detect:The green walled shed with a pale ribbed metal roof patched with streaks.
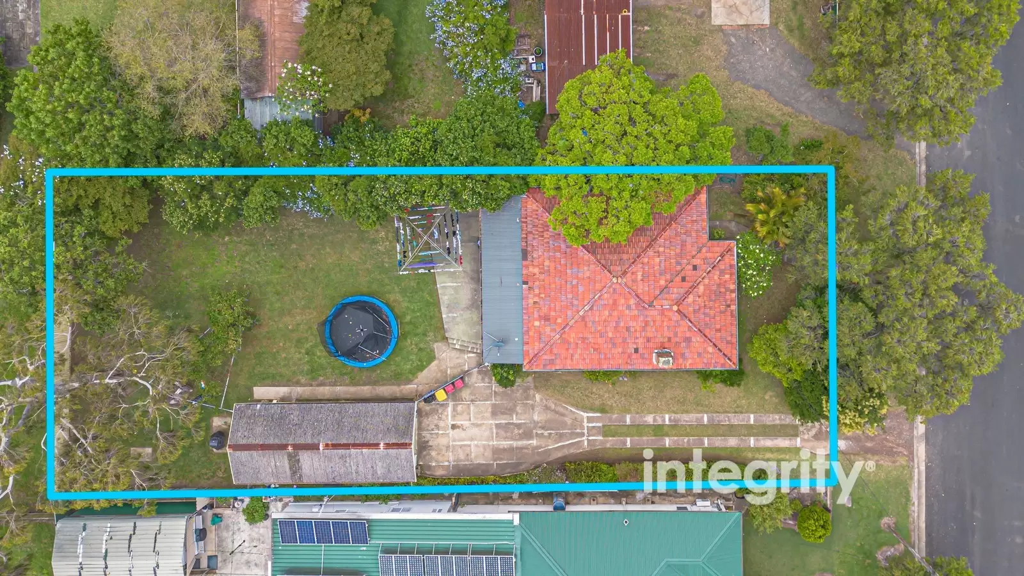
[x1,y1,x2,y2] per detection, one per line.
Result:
[47,505,213,576]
